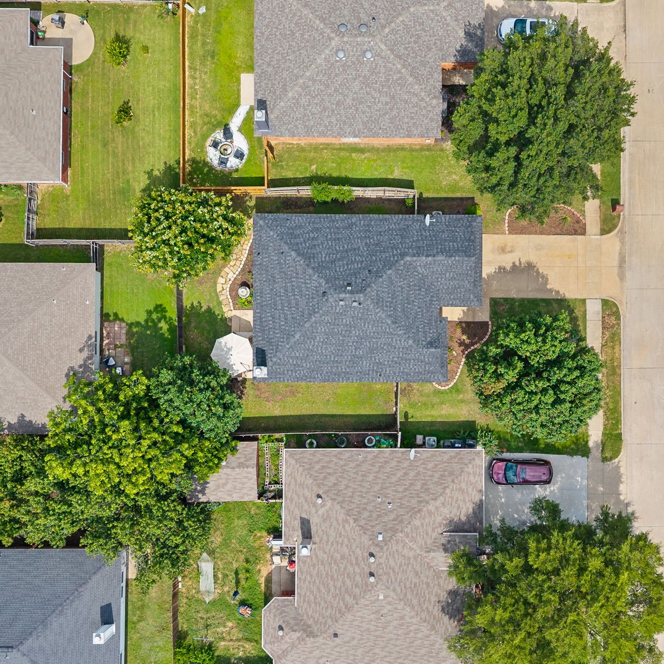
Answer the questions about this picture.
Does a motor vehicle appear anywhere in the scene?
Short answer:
Yes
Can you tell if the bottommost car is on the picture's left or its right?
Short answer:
right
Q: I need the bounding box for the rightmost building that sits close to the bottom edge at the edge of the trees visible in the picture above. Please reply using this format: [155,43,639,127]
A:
[260,447,486,664]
